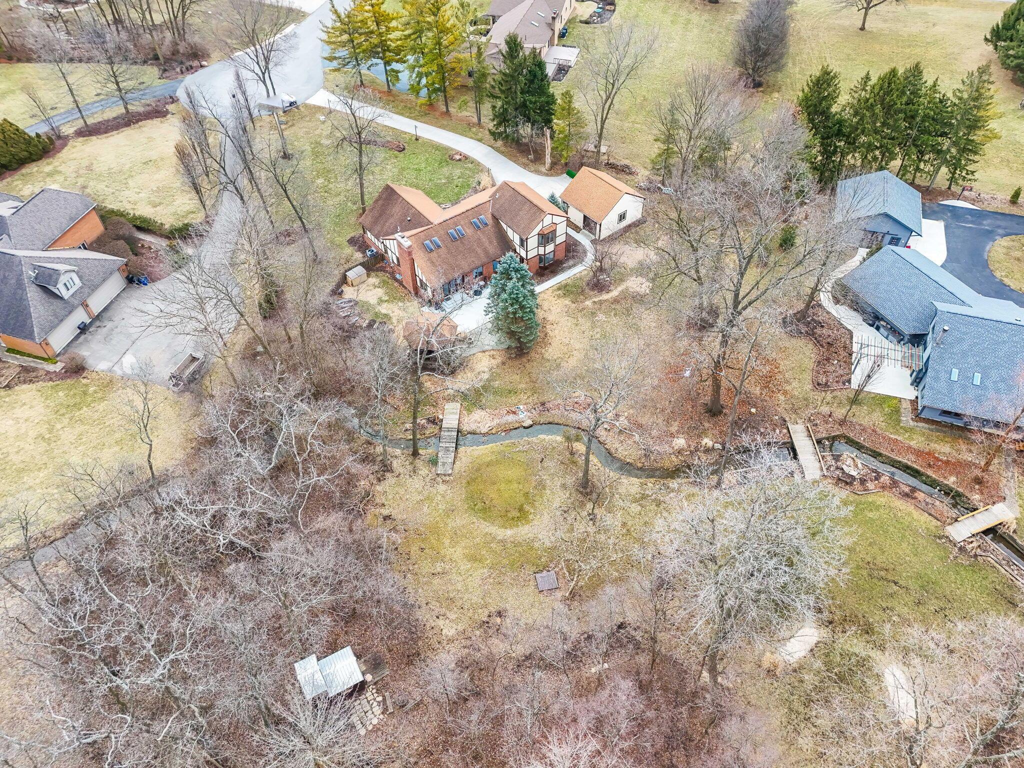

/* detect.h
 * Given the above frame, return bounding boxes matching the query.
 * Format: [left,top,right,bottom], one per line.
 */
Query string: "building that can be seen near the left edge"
[0,192,128,355]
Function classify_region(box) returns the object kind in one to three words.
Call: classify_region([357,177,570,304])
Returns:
house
